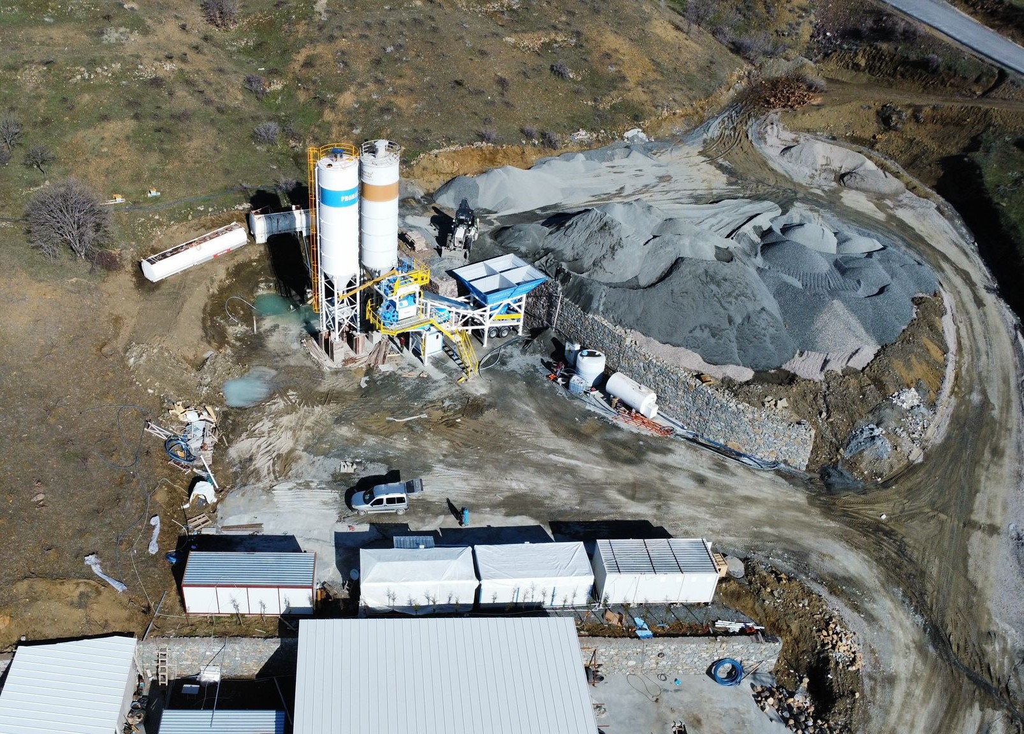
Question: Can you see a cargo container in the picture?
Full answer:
Yes, the frame does contain a cargo container.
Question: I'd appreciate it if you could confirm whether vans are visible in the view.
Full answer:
Yes, there's a van here.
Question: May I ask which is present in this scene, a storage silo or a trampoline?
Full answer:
Visible in the photo is a storage silo.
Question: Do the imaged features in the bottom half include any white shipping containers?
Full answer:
Yes, you'll find a white shipping container in the bottom half.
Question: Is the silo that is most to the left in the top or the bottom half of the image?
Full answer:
You can find the silo that is most to the left in the top half.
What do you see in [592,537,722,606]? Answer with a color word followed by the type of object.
white shipping container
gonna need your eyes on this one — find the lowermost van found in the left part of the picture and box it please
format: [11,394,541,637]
[350,477,423,515]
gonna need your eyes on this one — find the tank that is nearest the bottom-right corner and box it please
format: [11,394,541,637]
[605,372,658,417]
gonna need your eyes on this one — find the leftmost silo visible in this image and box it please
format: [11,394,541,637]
[308,142,366,358]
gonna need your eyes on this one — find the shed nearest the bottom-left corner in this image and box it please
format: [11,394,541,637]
[0,631,143,734]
